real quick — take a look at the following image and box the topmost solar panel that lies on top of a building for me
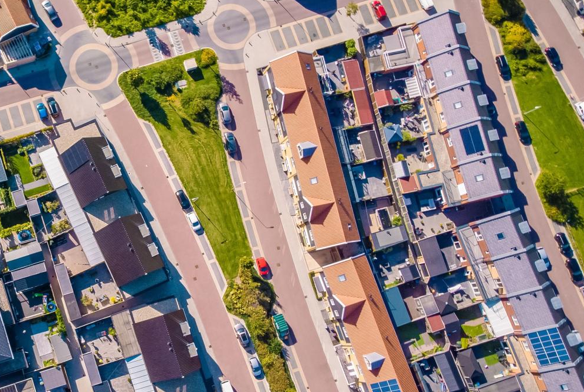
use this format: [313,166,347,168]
[460,124,485,155]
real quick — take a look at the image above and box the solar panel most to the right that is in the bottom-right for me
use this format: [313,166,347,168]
[528,328,570,367]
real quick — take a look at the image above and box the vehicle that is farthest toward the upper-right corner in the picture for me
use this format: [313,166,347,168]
[543,46,563,72]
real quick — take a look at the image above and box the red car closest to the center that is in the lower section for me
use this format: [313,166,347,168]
[253,255,271,278]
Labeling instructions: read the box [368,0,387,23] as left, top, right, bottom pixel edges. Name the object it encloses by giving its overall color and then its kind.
red car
